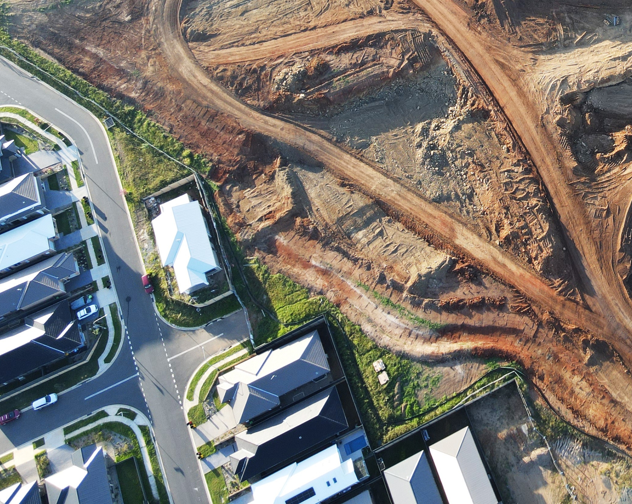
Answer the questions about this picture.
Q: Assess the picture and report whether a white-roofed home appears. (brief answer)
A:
Yes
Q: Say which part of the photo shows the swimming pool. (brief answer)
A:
bottom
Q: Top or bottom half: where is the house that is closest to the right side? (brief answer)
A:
bottom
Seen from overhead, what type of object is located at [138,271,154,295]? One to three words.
car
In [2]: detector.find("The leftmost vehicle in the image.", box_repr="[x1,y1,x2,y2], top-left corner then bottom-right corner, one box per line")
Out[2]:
[0,407,20,425]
